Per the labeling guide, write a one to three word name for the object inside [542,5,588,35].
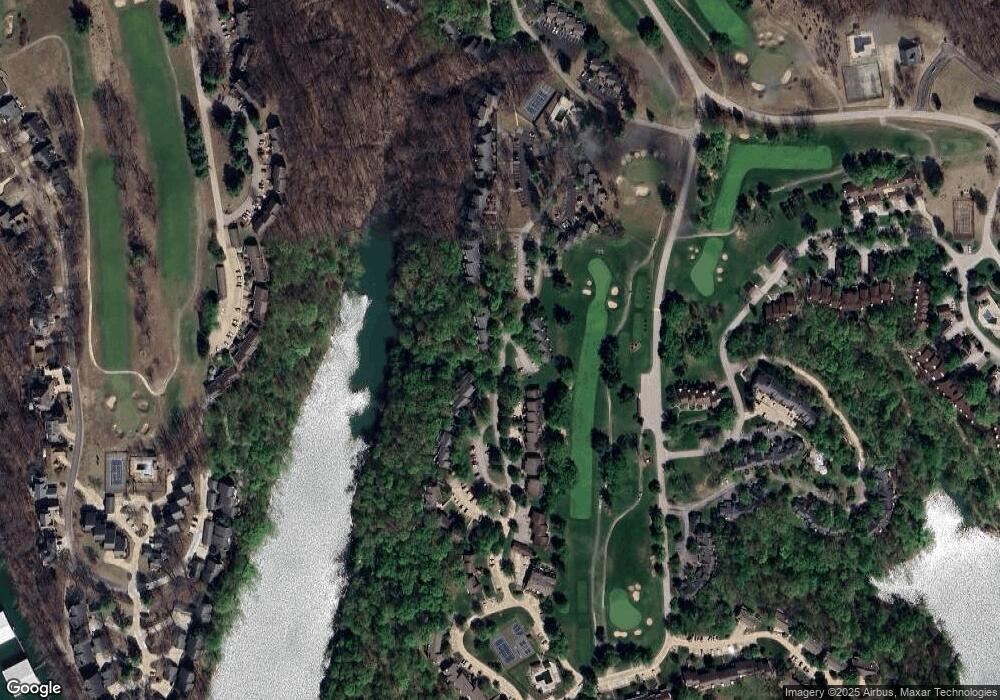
building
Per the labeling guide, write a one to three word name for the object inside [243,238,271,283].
building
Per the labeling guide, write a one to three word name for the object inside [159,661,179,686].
house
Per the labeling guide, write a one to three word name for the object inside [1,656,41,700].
pier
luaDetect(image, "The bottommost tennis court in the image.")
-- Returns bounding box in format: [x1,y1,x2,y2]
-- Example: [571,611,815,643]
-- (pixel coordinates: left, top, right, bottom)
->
[490,620,535,671]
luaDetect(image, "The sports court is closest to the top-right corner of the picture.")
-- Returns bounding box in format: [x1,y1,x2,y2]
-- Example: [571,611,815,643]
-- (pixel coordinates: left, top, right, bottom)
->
[842,61,885,103]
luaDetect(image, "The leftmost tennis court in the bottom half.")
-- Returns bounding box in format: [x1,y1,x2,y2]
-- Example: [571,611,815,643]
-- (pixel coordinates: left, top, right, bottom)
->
[105,452,128,493]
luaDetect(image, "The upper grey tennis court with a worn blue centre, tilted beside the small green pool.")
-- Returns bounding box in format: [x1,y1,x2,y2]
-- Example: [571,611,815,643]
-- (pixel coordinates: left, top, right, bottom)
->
[520,85,558,125]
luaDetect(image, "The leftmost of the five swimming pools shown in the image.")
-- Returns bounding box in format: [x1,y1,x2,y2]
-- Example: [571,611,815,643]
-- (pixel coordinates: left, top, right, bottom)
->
[131,458,155,482]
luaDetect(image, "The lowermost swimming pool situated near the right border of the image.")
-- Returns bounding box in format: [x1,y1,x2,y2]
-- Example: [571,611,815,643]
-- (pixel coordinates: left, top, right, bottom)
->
[979,294,1000,329]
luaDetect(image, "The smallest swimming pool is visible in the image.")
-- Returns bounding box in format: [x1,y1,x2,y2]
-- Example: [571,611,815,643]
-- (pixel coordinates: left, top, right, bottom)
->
[551,97,573,124]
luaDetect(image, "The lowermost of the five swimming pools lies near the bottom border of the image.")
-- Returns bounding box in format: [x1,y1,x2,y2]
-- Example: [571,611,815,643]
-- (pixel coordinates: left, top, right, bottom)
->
[530,660,561,692]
